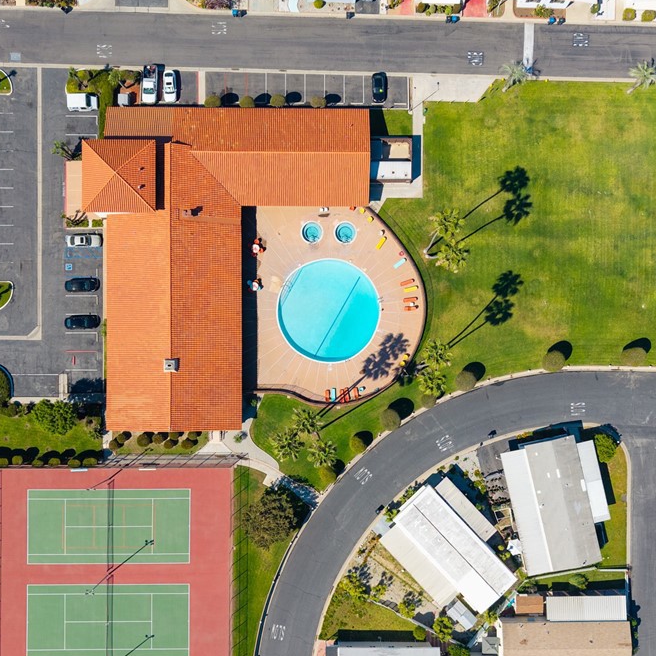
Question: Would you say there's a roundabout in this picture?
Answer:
No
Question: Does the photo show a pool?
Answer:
Yes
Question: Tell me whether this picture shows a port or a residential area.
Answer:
residential area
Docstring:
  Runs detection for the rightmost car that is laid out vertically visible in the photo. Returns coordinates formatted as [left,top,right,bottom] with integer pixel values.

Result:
[373,70,388,103]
